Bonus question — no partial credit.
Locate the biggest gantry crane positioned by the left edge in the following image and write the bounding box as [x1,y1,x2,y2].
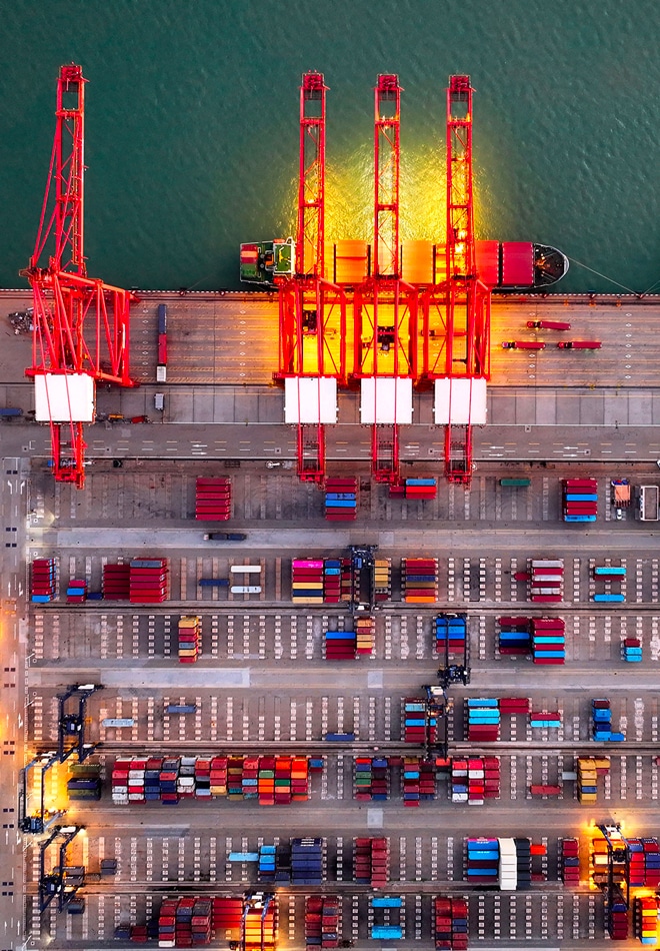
[21,57,136,500]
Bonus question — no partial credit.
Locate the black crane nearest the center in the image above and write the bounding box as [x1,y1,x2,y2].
[345,541,382,613]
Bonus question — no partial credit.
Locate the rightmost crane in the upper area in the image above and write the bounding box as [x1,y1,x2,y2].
[419,68,498,494]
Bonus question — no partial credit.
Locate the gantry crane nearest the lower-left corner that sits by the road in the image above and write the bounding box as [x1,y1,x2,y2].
[38,826,88,914]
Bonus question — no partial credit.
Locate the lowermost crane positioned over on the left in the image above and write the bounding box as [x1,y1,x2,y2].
[240,891,280,951]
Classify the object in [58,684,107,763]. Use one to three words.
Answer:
container crane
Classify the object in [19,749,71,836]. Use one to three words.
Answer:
container crane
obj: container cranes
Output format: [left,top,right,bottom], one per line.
[240,891,280,951]
[58,684,107,763]
[419,68,498,494]
[38,826,88,914]
[19,749,71,836]
[344,68,423,493]
[434,606,472,684]
[416,682,454,762]
[21,57,136,500]
[588,826,633,914]
[268,67,355,493]
[345,541,382,613]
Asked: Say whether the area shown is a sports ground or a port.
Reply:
port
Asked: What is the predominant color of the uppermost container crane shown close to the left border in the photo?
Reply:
red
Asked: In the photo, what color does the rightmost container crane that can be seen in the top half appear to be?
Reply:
red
